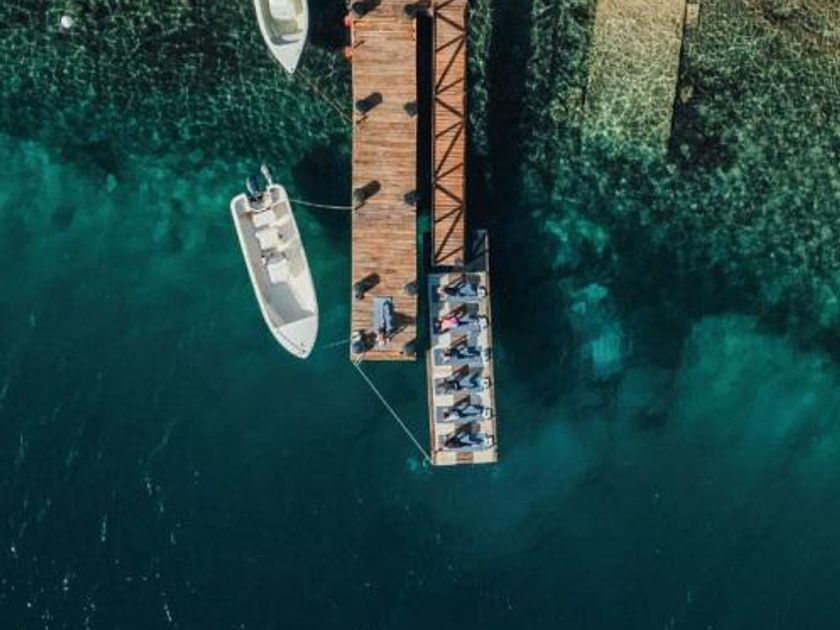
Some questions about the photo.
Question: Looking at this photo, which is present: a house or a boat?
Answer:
boat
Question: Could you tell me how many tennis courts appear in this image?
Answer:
0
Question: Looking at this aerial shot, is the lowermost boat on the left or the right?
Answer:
left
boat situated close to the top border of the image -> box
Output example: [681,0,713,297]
[253,0,308,75]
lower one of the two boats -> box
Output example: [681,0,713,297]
[233,173,314,358]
